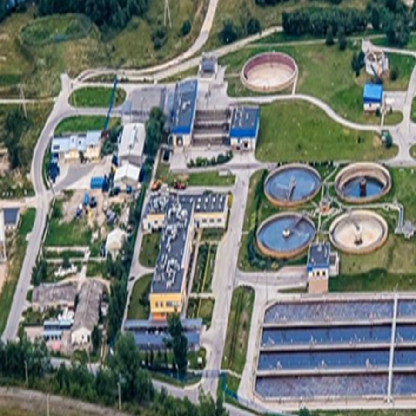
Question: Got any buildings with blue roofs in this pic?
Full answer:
Yes, the image includes a building with a blue roof.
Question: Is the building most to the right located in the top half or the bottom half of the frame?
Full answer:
You can find the building most to the right in the top half.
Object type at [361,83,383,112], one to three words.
building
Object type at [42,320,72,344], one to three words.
building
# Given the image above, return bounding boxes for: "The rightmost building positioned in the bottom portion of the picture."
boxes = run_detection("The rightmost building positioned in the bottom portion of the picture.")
[306,242,338,277]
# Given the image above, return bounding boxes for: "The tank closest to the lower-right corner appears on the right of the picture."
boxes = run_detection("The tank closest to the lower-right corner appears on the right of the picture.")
[329,208,388,253]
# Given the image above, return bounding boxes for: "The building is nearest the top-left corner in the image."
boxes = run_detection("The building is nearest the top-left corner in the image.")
[50,130,103,163]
